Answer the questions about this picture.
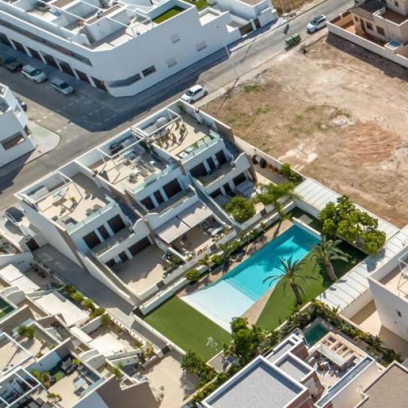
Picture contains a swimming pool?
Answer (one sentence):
Yes, you can see a swimming pool in this photo.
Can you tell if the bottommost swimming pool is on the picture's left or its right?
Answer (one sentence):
The bottommost swimming pool is on the right side of the image.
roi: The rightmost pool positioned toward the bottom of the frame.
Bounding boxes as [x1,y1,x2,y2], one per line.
[302,316,334,345]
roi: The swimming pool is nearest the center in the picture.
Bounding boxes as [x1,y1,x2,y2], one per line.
[183,221,320,329]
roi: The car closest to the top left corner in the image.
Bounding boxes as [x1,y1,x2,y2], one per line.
[0,51,21,73]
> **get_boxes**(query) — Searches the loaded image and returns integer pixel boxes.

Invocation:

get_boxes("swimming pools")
[183,221,320,329]
[302,316,334,345]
